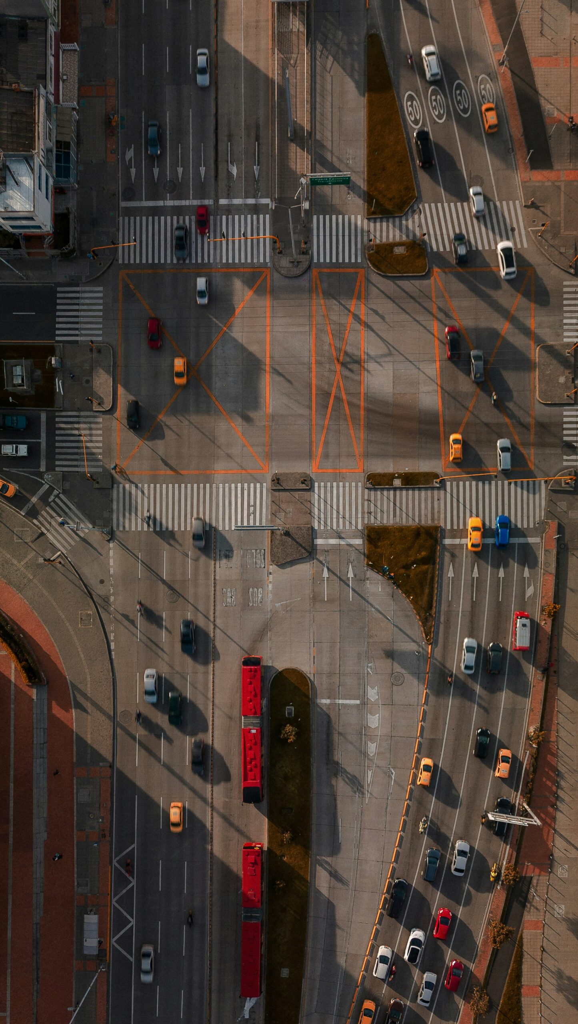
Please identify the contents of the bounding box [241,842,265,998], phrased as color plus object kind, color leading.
red bus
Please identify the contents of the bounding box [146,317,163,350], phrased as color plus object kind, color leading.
red car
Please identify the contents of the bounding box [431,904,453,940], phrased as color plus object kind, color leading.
red car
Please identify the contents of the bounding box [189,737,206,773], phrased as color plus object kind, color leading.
black car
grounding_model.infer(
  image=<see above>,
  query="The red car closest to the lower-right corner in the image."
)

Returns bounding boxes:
[442,956,465,992]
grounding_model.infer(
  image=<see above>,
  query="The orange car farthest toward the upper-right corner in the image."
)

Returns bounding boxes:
[479,103,498,136]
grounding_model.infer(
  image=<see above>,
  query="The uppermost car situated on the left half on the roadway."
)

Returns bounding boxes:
[194,49,211,89]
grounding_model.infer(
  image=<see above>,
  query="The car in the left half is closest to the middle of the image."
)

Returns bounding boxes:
[192,517,207,549]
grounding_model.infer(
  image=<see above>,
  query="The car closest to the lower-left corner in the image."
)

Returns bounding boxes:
[139,941,155,981]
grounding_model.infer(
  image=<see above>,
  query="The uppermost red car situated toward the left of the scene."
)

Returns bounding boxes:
[194,205,210,236]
